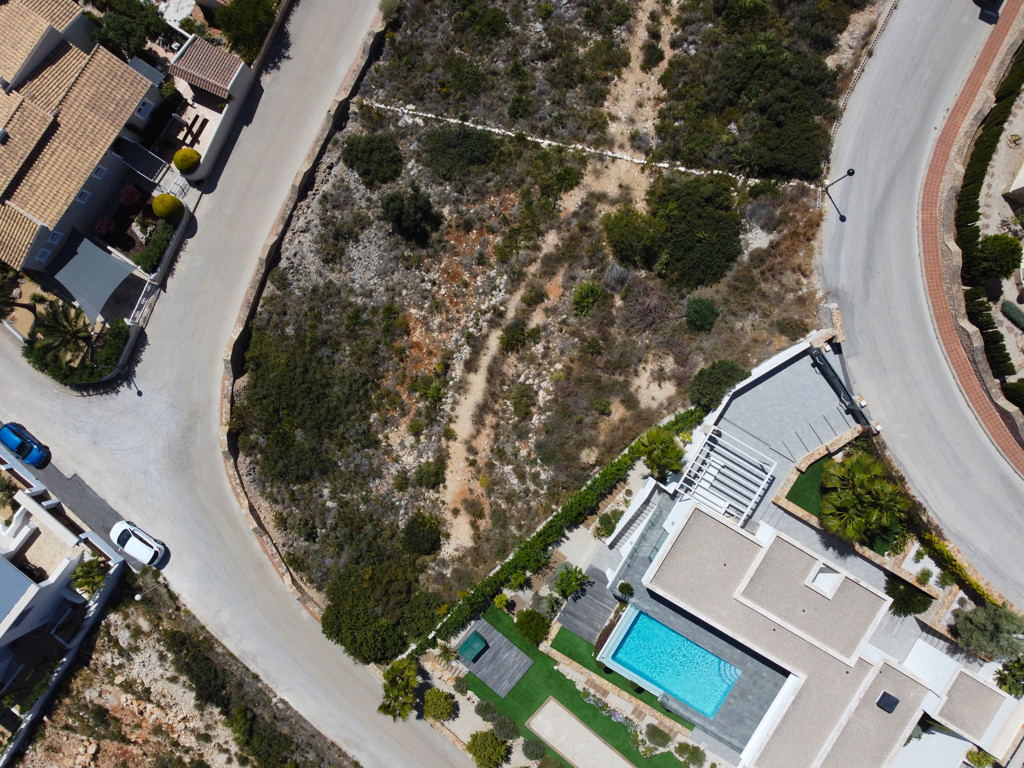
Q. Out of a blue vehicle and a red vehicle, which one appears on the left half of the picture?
blue vehicle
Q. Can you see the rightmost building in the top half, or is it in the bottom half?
top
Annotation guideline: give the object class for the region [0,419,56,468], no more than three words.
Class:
car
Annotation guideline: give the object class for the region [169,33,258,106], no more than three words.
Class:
building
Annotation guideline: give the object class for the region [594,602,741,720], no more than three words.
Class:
swimming pool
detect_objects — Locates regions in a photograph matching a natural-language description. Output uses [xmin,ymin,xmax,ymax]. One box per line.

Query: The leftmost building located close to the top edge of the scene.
[0,0,169,274]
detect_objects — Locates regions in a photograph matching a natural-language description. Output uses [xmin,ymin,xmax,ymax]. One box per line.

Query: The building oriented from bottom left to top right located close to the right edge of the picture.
[989,162,1024,202]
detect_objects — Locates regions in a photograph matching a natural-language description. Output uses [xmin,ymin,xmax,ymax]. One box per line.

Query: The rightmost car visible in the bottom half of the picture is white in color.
[111,518,172,569]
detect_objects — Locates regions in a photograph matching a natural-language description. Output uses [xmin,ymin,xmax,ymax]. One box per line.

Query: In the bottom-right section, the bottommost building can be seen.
[642,492,1024,768]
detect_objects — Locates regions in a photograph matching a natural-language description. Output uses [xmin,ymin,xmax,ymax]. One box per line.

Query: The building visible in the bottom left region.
[0,548,95,655]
